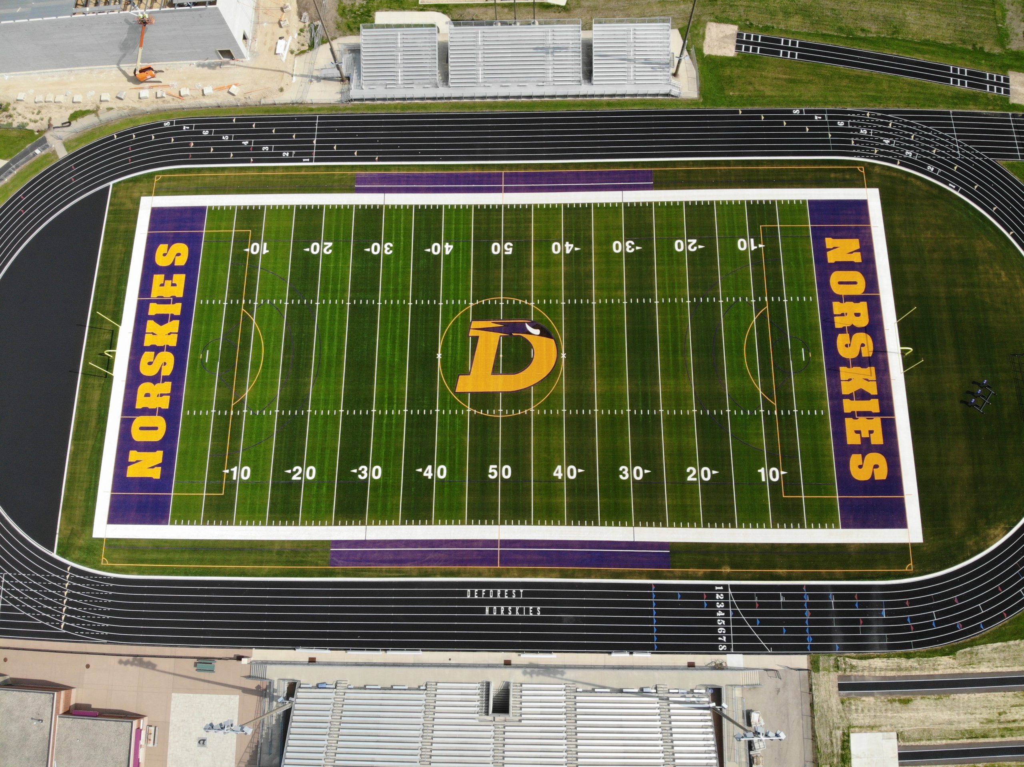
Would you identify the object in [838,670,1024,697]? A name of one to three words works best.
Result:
runway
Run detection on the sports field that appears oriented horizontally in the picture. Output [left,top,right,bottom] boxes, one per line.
[169,200,839,528]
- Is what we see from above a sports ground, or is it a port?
sports ground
